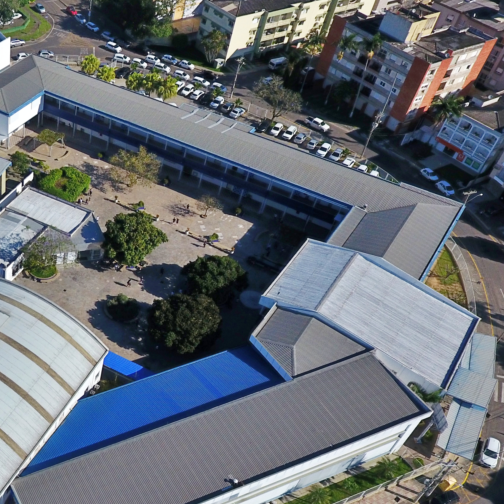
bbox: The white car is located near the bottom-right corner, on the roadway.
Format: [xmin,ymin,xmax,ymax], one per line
[480,436,502,468]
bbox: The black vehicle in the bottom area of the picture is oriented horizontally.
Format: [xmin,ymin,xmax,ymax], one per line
[428,490,462,504]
